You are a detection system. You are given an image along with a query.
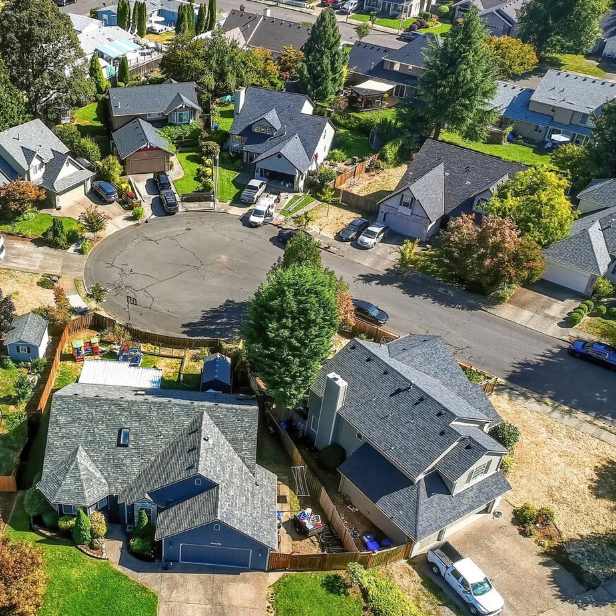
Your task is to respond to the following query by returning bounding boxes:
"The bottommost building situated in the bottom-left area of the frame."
[38,384,281,571]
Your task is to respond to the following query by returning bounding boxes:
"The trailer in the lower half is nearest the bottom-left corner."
[280,510,330,542]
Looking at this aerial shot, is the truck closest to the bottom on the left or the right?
right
